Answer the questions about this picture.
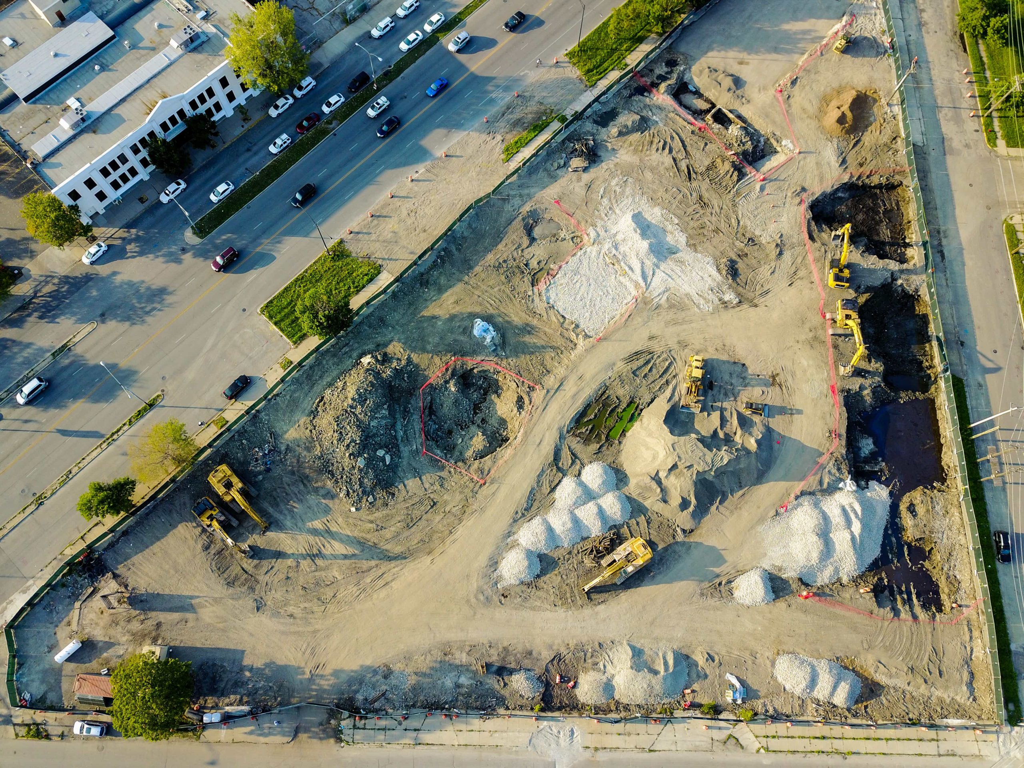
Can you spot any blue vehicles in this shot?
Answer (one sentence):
Yes, the picture does show a blue vehicle.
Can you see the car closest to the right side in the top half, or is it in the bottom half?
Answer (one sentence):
The car closest to the right side sits in the bottom half of the picture.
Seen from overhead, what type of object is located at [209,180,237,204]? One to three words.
car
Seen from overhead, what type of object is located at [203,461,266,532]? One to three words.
work vehicle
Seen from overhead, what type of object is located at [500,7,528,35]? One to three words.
truck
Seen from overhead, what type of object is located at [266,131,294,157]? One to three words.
car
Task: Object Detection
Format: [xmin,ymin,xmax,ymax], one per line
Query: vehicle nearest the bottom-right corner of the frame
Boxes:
[992,530,1014,563]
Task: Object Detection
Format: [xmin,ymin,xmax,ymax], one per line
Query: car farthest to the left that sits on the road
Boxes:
[16,376,49,405]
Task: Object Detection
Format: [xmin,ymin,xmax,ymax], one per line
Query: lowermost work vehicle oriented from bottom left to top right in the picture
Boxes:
[585,533,658,593]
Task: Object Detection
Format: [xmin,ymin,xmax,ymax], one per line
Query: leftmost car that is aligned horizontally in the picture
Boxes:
[74,723,108,740]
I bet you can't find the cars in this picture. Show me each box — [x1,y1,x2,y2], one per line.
[422,11,448,34]
[160,180,188,204]
[992,530,1014,563]
[365,95,391,120]
[375,115,401,139]
[424,76,450,99]
[222,374,252,401]
[290,182,318,208]
[82,241,110,266]
[209,180,237,204]
[16,376,49,405]
[394,0,420,21]
[321,91,346,115]
[268,94,295,118]
[211,246,240,272]
[295,111,322,135]
[398,30,424,53]
[266,131,294,157]
[345,69,372,94]
[292,75,318,98]
[74,723,108,740]
[446,30,471,54]
[369,15,395,40]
